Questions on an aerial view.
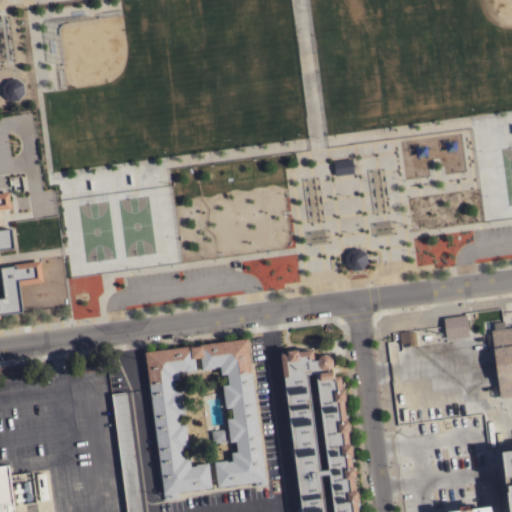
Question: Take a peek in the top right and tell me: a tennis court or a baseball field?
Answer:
baseball field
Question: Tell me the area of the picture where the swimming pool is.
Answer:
bottom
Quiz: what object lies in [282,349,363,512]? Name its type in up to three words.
building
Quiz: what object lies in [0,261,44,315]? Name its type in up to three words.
building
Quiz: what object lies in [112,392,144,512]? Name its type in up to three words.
shed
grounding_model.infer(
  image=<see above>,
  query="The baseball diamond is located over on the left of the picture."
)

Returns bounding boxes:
[46,0,308,172]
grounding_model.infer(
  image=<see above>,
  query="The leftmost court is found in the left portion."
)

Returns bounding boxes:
[80,202,116,262]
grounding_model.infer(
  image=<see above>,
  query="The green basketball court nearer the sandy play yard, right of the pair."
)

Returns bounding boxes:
[120,197,156,258]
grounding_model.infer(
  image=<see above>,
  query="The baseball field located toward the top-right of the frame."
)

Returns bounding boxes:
[310,0,512,138]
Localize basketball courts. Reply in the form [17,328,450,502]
[120,197,156,258]
[80,202,116,262]
[502,148,512,206]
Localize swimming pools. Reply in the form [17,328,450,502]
[203,394,226,431]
